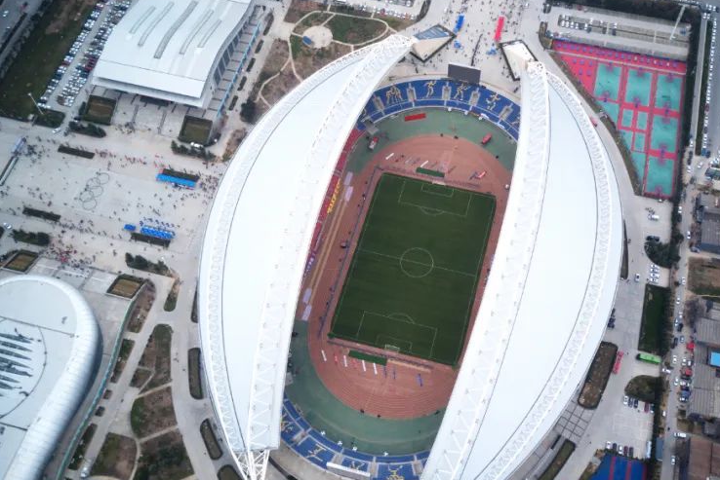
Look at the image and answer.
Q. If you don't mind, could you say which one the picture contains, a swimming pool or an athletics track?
athletics track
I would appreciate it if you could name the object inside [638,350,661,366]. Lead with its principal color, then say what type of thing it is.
green vehicle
